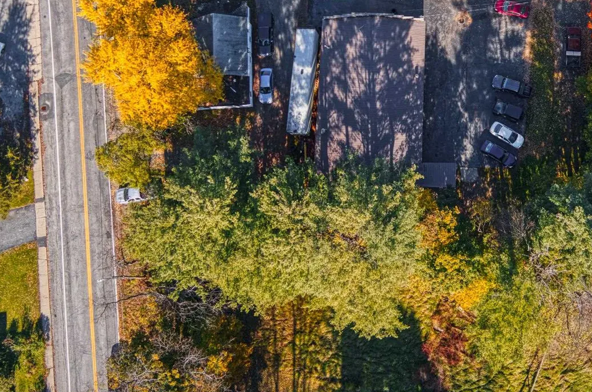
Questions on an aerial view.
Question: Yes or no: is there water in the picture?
No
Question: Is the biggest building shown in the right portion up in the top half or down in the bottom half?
top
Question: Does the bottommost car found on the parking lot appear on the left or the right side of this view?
right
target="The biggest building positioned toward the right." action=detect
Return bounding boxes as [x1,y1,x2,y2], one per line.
[315,15,426,181]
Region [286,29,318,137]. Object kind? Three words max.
trailer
